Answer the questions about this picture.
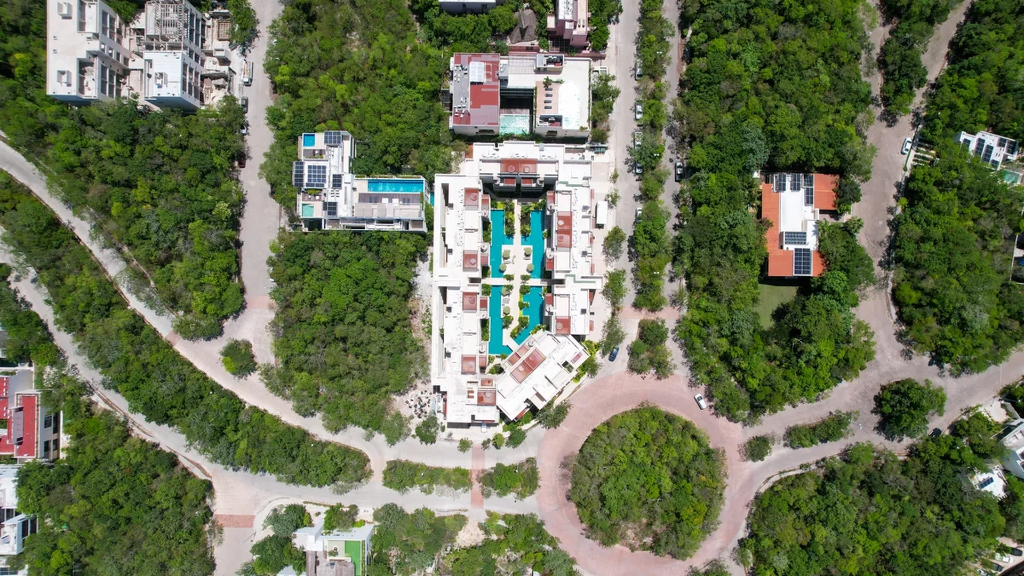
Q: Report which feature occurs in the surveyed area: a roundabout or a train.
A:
roundabout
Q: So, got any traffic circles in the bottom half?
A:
Yes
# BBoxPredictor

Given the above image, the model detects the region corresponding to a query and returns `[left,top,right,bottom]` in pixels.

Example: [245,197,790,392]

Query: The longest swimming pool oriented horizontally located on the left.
[368,180,424,192]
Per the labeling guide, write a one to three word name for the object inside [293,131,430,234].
building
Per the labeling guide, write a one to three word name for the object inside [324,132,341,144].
solar panel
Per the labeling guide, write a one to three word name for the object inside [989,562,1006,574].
vehicle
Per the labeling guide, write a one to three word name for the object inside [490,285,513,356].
swimming pool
